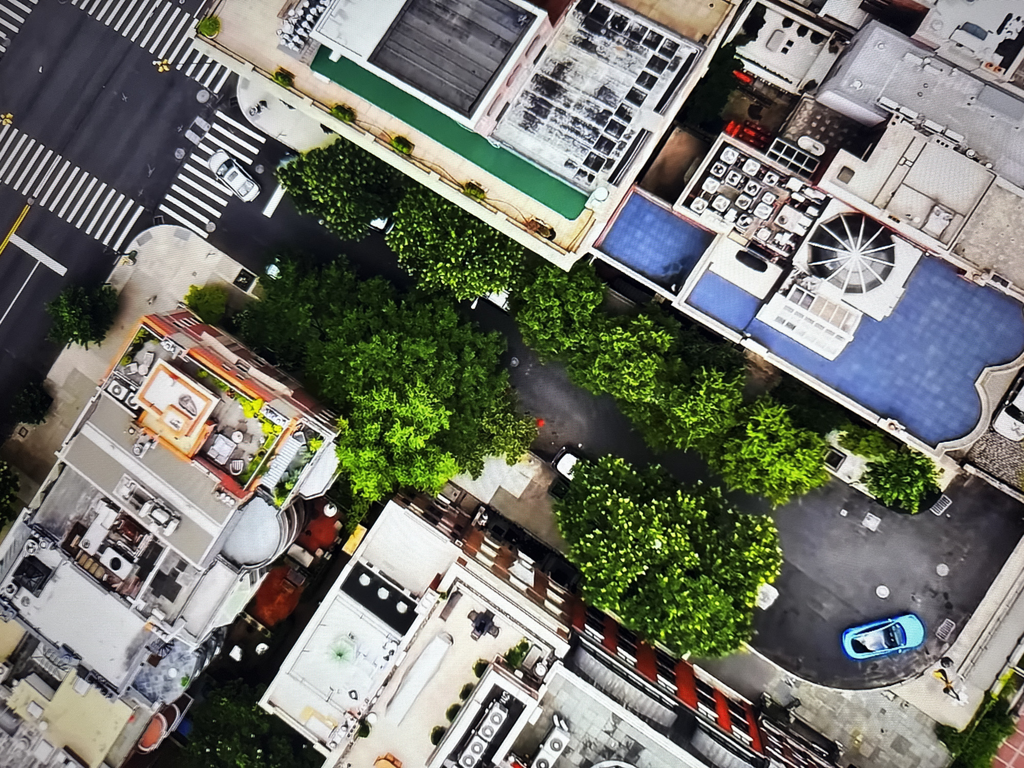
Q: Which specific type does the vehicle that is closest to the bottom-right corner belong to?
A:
automobile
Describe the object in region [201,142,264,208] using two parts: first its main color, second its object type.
white car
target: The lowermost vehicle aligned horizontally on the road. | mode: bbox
[842,615,929,663]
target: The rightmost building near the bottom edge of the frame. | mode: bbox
[506,584,806,768]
